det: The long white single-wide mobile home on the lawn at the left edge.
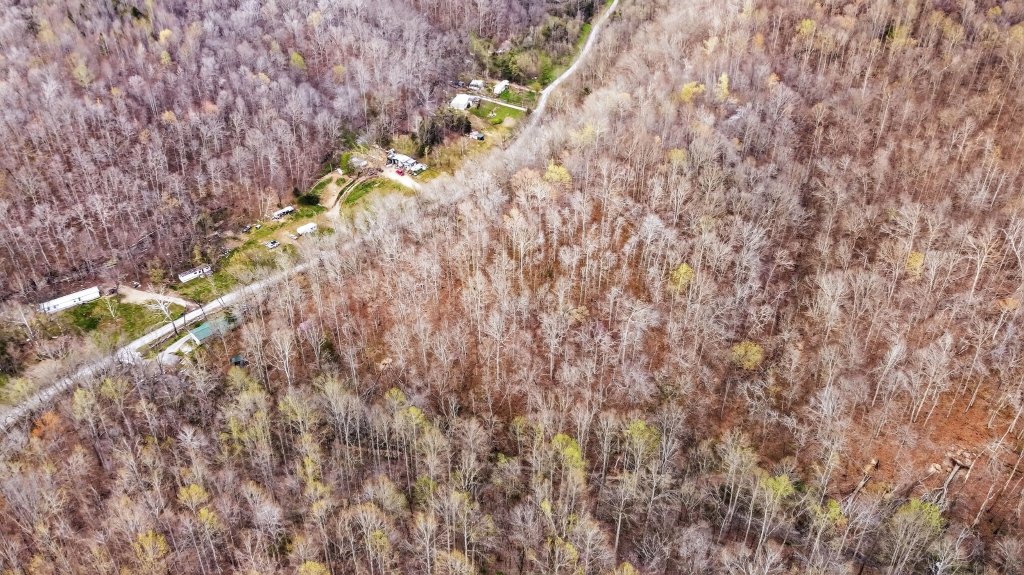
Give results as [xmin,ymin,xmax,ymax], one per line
[41,286,100,314]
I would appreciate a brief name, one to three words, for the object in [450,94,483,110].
barn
